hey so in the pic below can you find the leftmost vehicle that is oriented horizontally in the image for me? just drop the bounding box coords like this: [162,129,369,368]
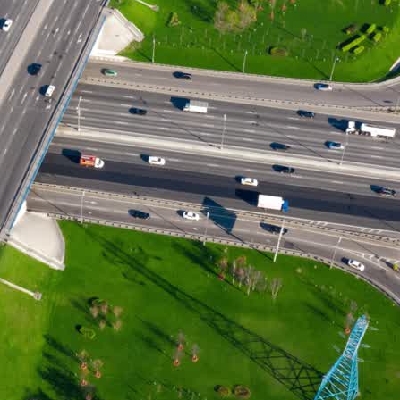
[79,152,105,166]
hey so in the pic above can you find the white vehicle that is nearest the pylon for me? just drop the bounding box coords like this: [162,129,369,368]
[345,258,365,272]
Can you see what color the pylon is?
blue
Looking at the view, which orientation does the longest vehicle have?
from side to side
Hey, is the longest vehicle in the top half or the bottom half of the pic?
top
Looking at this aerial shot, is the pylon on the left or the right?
right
